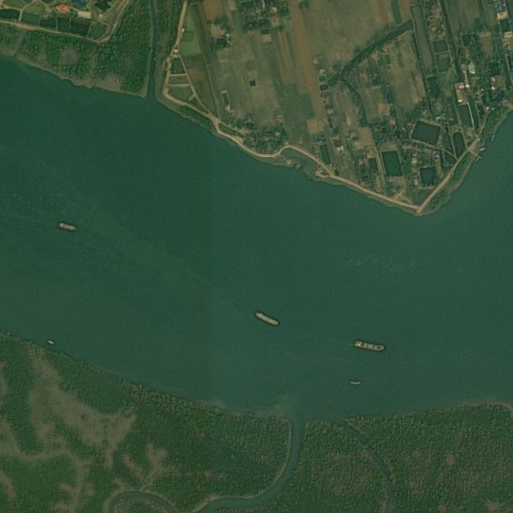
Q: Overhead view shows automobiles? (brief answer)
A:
No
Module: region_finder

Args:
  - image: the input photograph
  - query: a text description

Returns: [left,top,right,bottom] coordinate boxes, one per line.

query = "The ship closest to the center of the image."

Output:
[255,313,279,325]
